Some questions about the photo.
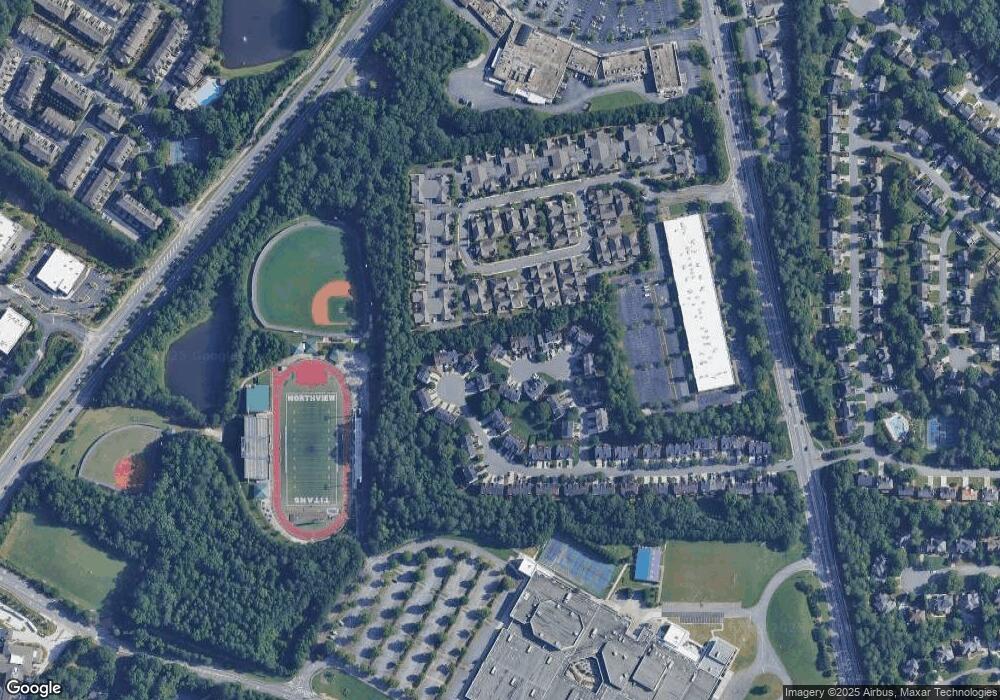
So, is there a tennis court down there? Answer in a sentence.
Yes, a tennis court can be made out from above.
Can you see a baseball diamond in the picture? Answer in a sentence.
Yes, the photo shows a baseball diamond.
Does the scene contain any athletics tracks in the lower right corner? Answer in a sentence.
No, looking in the lower right corner, there is no athletics track.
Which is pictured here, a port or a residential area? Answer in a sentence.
What you see here is a residential area.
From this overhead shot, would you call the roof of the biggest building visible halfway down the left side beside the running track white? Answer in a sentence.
No, from above the roof of the biggest building visible halfway down the left side beside the running track looks blue.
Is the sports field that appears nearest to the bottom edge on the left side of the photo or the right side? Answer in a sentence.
You can find the sports field that appears nearest to the bottom edge on the right side of the picture.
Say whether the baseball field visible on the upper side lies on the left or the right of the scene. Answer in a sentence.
The baseball field visible on the upper side appears in the left half of the scene.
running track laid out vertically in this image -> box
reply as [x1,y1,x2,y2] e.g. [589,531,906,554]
[272,360,351,542]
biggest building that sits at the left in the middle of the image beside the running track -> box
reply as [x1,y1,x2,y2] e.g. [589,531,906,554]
[246,385,269,411]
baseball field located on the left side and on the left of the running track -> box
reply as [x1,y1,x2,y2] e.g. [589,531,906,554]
[79,425,165,498]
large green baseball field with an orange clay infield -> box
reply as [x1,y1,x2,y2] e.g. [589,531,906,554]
[252,220,372,336]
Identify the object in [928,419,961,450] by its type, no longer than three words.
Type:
tennis court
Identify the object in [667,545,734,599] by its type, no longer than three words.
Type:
sports field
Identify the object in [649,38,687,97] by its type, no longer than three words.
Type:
building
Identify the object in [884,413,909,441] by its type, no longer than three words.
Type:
swimming pool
